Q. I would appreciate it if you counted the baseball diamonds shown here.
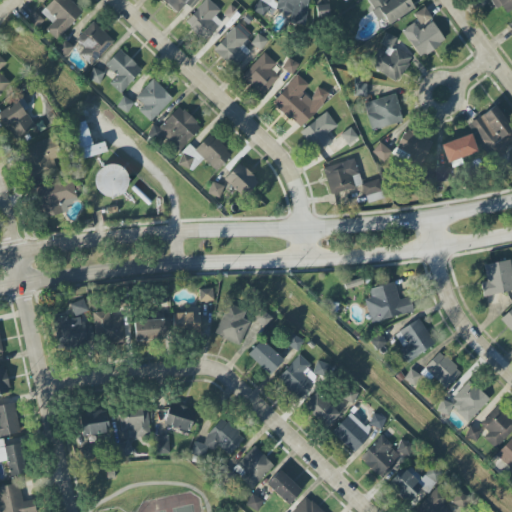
zero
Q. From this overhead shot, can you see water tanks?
Yes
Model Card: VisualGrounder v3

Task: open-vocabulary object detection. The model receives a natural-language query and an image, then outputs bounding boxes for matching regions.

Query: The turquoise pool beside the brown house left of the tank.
[66,200,83,222]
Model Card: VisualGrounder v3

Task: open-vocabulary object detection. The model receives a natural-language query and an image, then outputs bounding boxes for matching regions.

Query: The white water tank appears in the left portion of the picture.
[95,164,128,196]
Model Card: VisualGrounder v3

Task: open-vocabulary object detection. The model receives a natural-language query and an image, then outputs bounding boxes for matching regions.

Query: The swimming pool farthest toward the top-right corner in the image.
[353,16,381,43]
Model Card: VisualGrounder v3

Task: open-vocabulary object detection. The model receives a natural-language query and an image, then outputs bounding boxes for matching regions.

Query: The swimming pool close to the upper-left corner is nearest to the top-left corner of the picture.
[70,48,88,70]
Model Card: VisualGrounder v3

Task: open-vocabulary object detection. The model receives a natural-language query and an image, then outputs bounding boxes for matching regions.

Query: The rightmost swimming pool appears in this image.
[448,410,466,430]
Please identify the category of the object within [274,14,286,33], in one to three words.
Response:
swimming pool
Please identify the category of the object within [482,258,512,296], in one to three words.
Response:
house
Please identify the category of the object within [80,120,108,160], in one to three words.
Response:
building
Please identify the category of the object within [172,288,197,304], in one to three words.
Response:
swimming pool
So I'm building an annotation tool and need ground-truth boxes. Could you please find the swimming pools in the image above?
[353,16,381,43]
[274,14,286,33]
[448,410,466,430]
[356,408,370,426]
[172,288,197,304]
[350,302,366,324]
[70,48,88,70]
[66,200,83,222]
